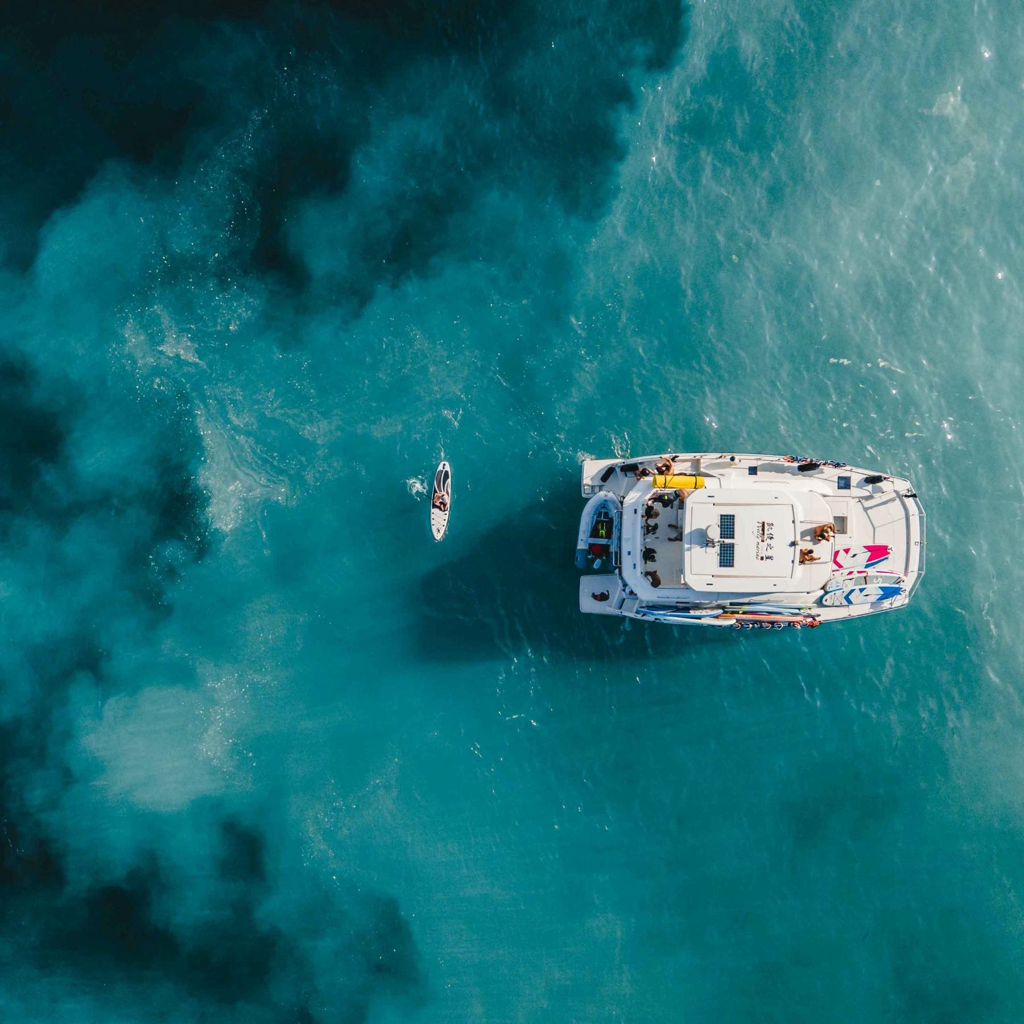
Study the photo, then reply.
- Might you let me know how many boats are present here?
two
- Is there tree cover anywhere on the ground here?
No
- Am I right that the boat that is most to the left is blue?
Yes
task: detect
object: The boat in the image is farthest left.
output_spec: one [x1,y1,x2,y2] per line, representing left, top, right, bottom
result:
[575,493,623,569]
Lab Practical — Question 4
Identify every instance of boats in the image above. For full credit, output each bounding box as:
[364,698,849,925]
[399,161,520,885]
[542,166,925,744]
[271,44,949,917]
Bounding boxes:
[580,453,927,623]
[575,493,623,569]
